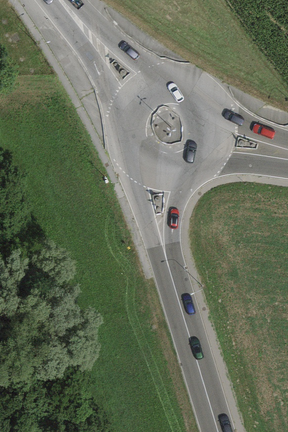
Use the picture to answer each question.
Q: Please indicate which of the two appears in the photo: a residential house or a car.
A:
car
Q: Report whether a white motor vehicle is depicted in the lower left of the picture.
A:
No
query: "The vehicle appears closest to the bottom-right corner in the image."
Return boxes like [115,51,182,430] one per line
[220,414,232,432]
